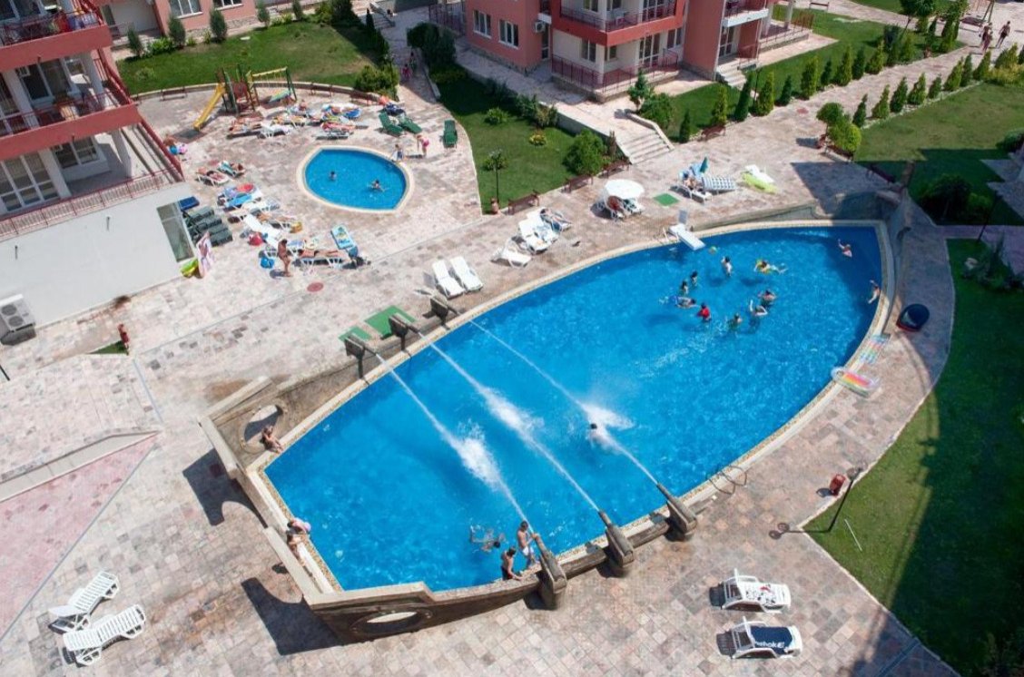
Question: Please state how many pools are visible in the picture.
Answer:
two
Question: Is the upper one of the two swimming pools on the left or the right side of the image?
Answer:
left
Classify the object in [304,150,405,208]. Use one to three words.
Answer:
swimming pool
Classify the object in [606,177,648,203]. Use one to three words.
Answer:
umbrella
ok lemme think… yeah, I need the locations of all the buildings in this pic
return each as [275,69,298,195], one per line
[0,0,214,347]
[460,0,813,102]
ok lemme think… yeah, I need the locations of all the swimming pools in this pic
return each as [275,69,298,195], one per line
[267,228,880,616]
[304,150,405,208]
